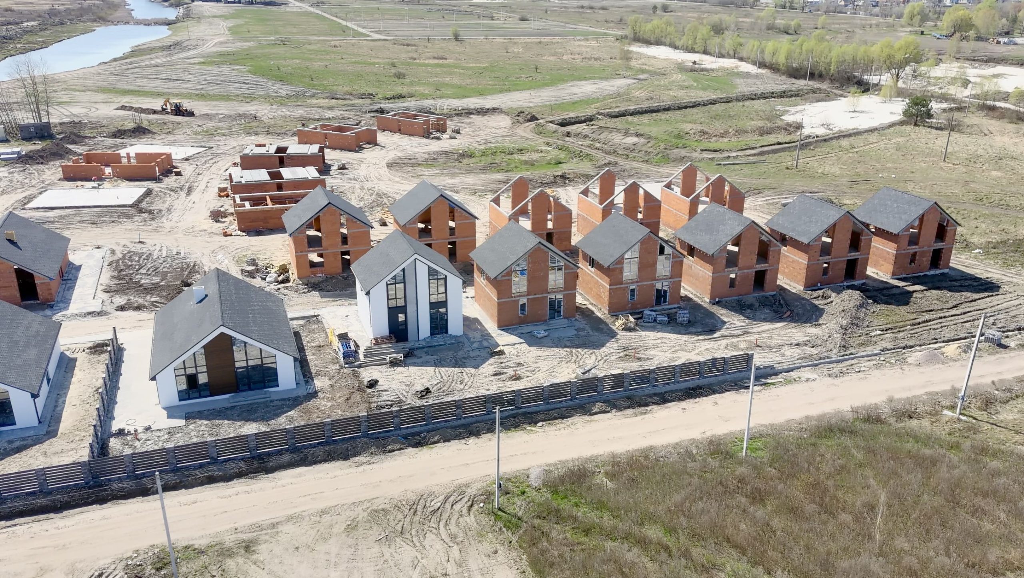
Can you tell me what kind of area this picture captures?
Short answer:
residential area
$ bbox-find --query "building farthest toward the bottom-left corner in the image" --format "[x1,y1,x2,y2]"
[0,299,76,444]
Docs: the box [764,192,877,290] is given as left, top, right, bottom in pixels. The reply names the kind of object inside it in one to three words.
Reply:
house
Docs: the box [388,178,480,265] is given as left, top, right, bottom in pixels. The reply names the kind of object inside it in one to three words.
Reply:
house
